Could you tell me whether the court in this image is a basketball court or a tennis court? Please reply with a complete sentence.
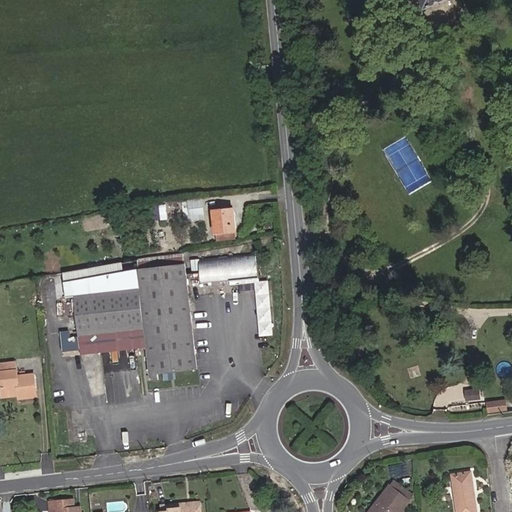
I'd say the court is a tennis court.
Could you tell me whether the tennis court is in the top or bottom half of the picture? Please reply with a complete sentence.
You can find the tennis court in the top half.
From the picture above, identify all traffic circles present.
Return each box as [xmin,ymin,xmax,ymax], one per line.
[256,368,372,485]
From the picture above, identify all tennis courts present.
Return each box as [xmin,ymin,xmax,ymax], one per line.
[382,136,432,195]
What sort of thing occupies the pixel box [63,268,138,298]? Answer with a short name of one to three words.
building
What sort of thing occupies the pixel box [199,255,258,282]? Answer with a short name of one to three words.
hangar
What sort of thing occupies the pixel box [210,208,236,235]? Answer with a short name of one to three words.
house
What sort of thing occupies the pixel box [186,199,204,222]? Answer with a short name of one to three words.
barn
